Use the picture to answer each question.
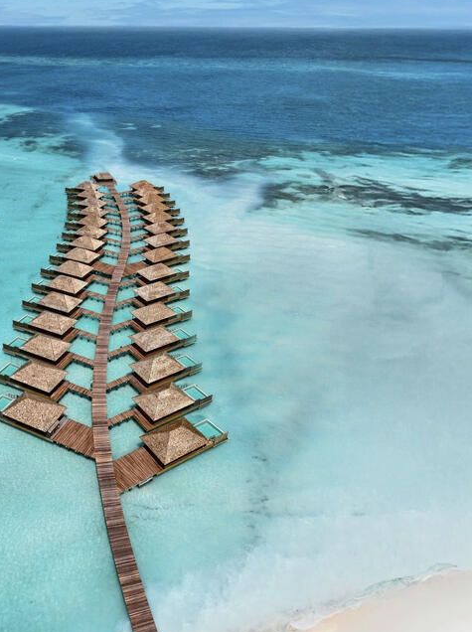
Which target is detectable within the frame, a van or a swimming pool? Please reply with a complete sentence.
The image shows a swimming pool.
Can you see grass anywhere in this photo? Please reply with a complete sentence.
No, there is no grass in the image.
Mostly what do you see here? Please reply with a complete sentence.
Most of the picture is covered by water.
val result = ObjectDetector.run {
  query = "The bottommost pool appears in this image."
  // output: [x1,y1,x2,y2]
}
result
[193,417,224,440]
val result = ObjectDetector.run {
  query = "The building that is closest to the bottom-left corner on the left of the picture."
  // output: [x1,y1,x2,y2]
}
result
[0,391,72,447]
